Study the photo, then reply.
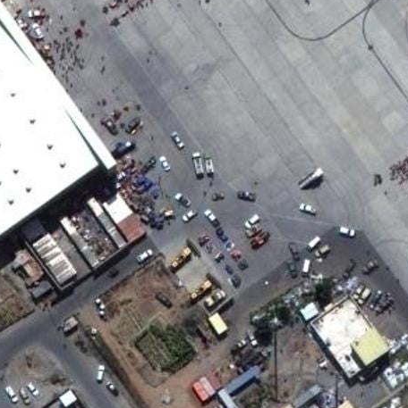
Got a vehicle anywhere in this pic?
Yes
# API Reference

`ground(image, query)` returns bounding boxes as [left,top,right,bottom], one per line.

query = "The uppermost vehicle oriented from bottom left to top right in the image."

[125,117,141,135]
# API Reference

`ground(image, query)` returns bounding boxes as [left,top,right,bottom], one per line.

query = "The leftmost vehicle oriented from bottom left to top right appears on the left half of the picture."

[61,319,80,334]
